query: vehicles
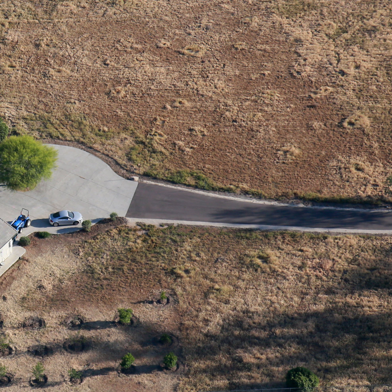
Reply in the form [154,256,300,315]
[11,206,31,238]
[48,208,83,226]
